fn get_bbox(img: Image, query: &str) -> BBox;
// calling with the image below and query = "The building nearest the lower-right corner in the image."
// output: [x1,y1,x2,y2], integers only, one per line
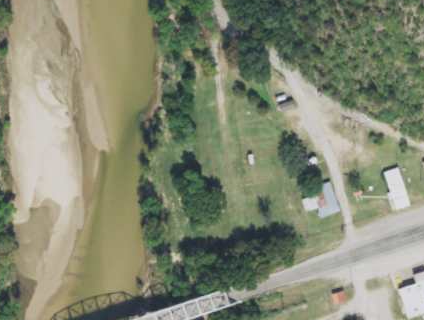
[398,274,424,320]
